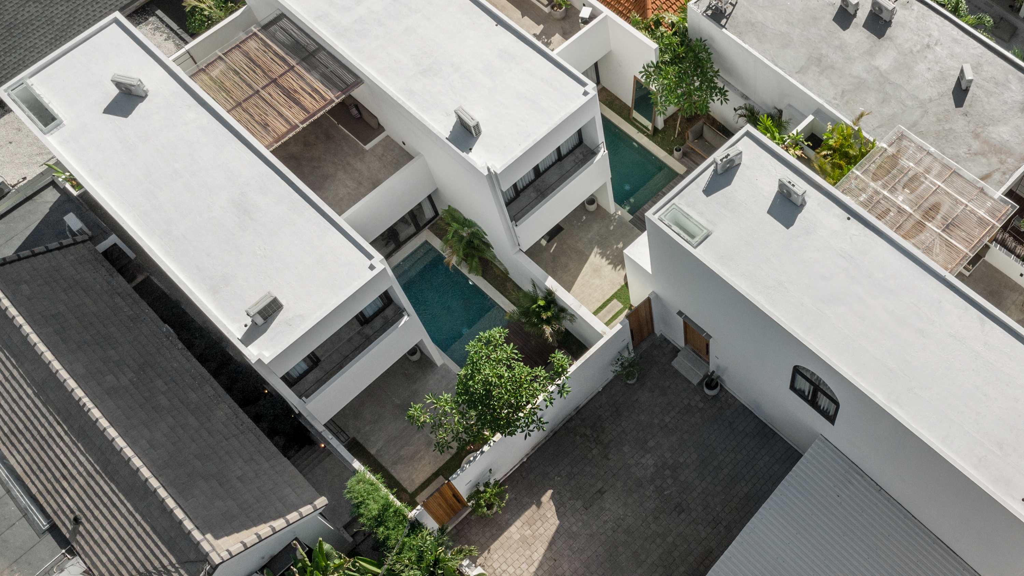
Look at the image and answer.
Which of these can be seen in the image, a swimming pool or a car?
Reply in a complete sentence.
Looking from above, you can make out a swimming pool.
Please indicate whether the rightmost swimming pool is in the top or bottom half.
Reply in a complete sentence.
The rightmost swimming pool sits in the top half of the picture.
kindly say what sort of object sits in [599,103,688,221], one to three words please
swimming pool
